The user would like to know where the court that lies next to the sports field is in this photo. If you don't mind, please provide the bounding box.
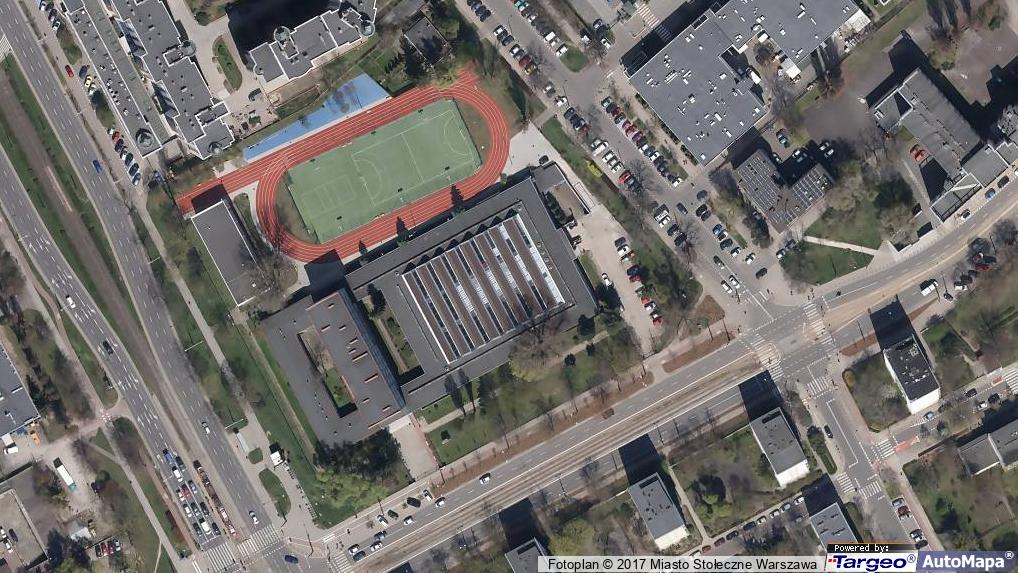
[244,74,390,161]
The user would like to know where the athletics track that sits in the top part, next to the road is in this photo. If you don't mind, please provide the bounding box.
[177,69,510,265]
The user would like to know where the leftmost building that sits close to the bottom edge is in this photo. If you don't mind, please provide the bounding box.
[0,466,64,554]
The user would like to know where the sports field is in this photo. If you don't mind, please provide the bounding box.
[288,98,481,243]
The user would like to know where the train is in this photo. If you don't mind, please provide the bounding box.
[195,461,242,541]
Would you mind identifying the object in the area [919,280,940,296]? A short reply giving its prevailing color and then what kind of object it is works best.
white vehicle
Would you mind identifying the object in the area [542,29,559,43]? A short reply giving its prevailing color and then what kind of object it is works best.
white vehicle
